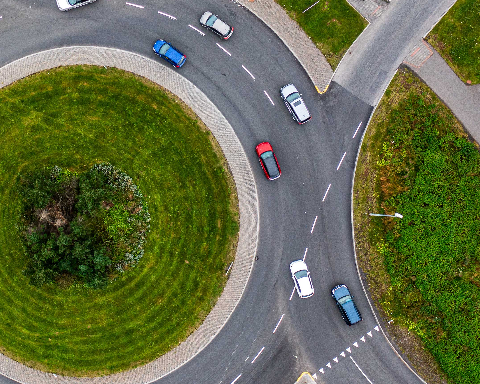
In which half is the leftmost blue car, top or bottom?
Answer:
top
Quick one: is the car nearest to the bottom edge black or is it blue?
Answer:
blue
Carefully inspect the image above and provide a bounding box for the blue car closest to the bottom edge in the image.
[332,284,363,327]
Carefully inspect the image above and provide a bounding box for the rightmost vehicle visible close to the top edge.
[199,11,235,40]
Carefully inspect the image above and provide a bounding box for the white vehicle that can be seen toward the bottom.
[289,260,314,299]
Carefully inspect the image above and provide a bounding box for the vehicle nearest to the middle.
[256,141,283,182]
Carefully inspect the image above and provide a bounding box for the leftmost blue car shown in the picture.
[151,39,188,69]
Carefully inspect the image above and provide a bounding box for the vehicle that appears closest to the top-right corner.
[280,82,312,124]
